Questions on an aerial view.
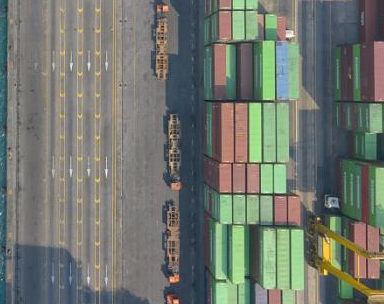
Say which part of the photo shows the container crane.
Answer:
bottom right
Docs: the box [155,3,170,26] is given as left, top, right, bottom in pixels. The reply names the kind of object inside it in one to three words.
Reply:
work vehicle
